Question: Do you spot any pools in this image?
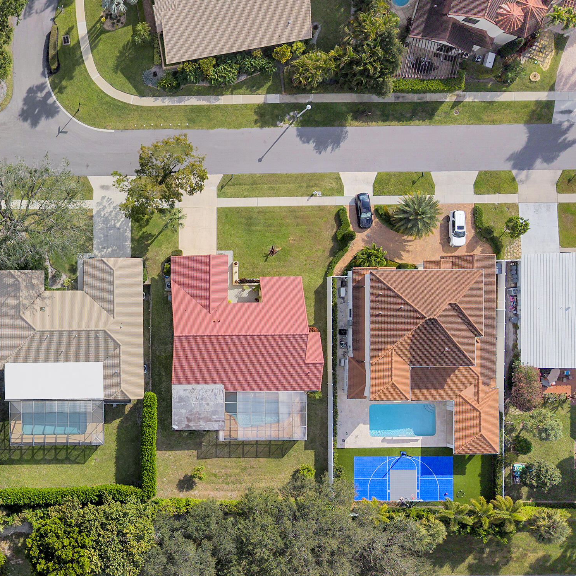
Yes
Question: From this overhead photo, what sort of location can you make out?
residential area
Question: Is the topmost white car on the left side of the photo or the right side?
right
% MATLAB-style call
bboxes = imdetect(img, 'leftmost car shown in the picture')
[353,193,373,229]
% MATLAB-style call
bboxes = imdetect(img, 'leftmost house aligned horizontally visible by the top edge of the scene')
[152,0,313,65]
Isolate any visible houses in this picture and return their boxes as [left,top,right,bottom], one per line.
[510,253,576,368]
[342,253,500,454]
[401,0,550,57]
[170,253,325,430]
[152,0,313,65]
[0,257,144,399]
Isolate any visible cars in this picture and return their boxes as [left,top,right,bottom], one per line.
[353,193,373,229]
[445,209,466,246]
